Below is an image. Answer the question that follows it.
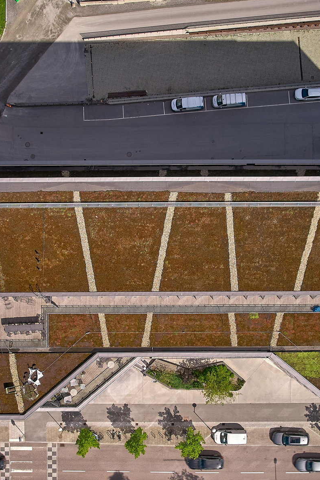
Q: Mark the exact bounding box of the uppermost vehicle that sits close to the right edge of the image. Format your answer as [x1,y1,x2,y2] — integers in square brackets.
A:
[294,87,320,102]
